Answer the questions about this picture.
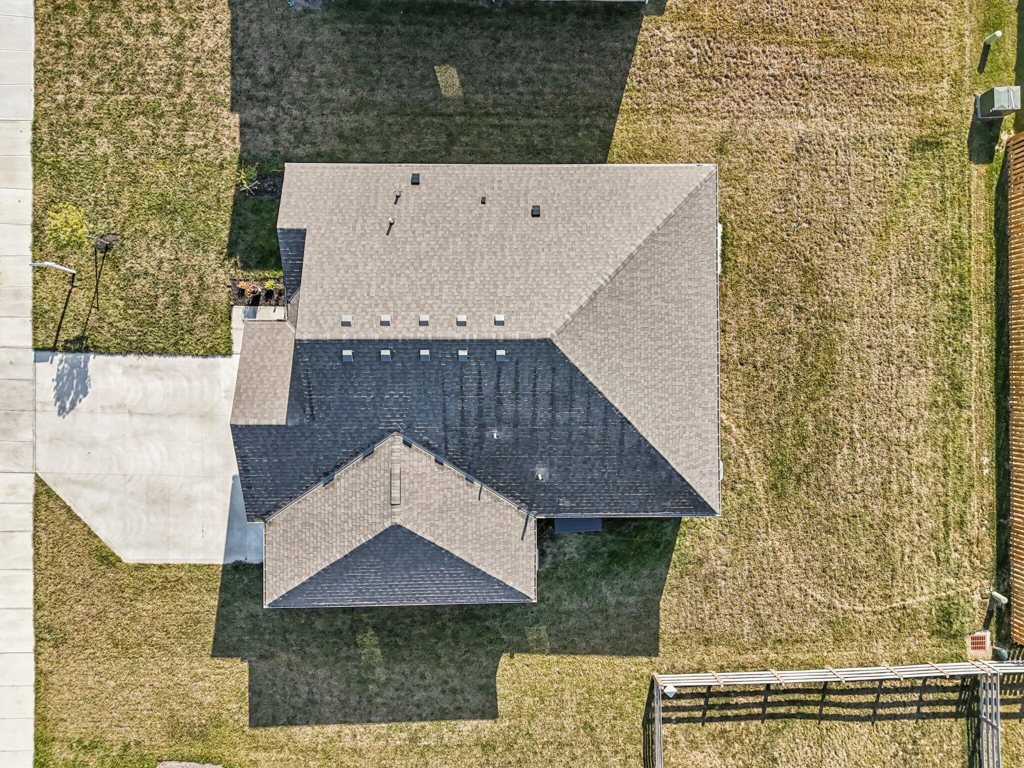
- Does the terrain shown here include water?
No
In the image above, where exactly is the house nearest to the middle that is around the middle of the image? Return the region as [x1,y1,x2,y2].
[229,161,721,607]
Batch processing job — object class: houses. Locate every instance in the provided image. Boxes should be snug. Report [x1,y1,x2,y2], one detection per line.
[492,0,651,10]
[229,161,721,607]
